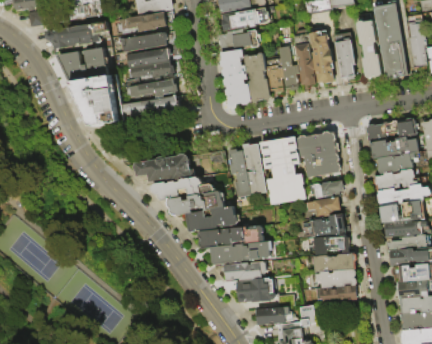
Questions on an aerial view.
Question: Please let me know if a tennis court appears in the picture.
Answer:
Yes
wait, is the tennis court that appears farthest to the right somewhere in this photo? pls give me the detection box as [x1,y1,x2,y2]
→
[57,270,130,344]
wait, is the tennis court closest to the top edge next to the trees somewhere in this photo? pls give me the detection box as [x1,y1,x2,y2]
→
[0,216,77,296]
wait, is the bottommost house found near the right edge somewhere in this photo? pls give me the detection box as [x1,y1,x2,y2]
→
[401,328,432,344]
